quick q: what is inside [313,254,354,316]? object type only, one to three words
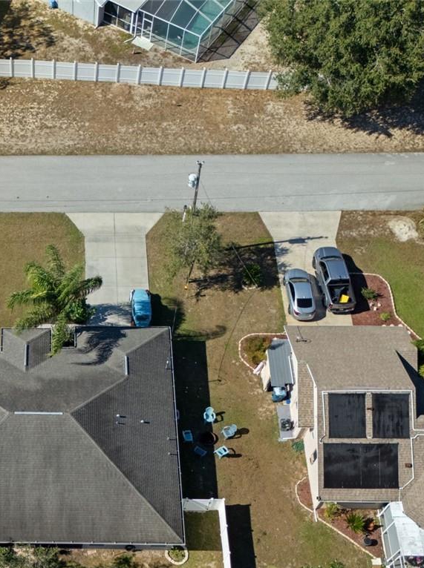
truck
